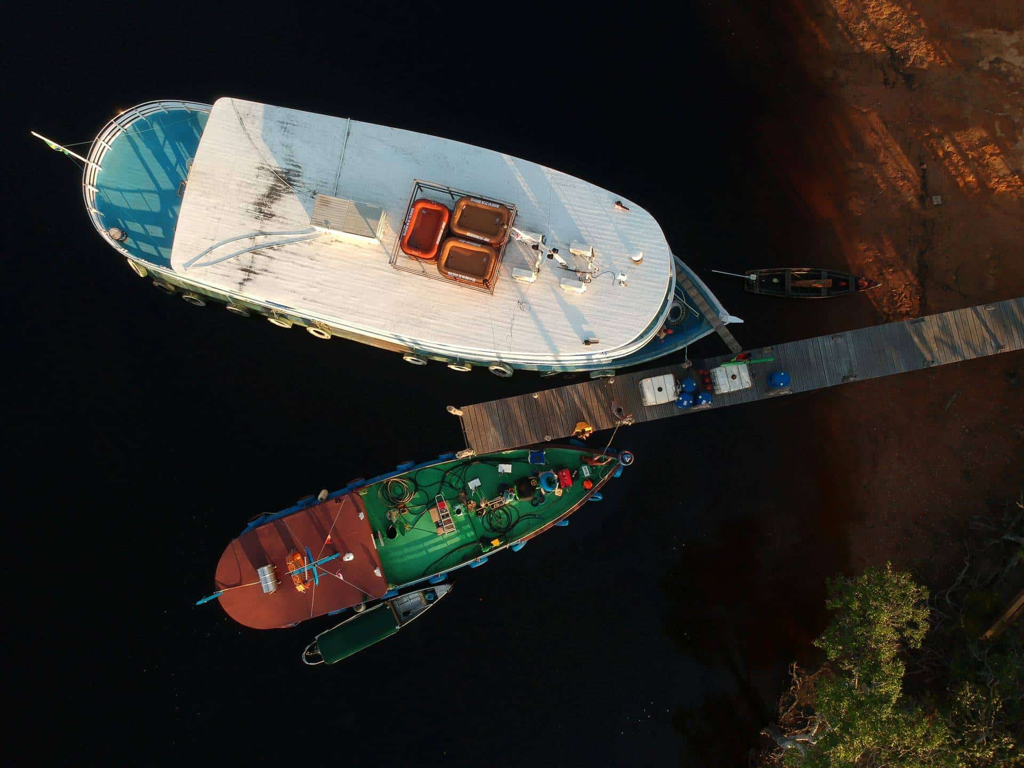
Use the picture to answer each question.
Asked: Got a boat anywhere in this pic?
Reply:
Yes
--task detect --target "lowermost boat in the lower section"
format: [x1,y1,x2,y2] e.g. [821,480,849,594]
[302,581,457,669]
